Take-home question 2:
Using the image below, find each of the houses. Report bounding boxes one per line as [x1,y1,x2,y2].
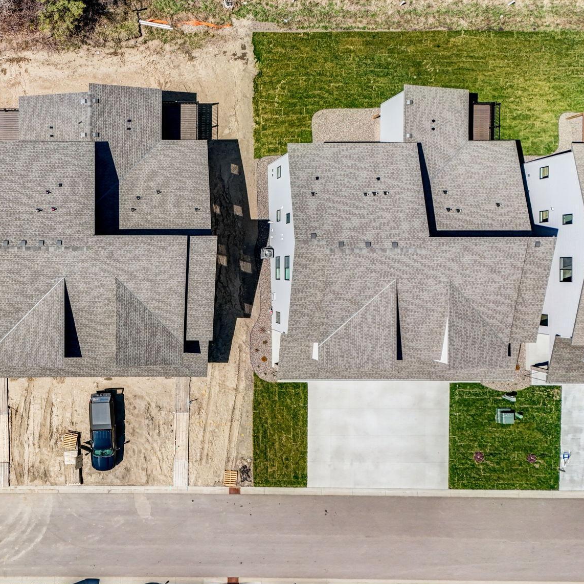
[0,83,218,378]
[271,85,556,381]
